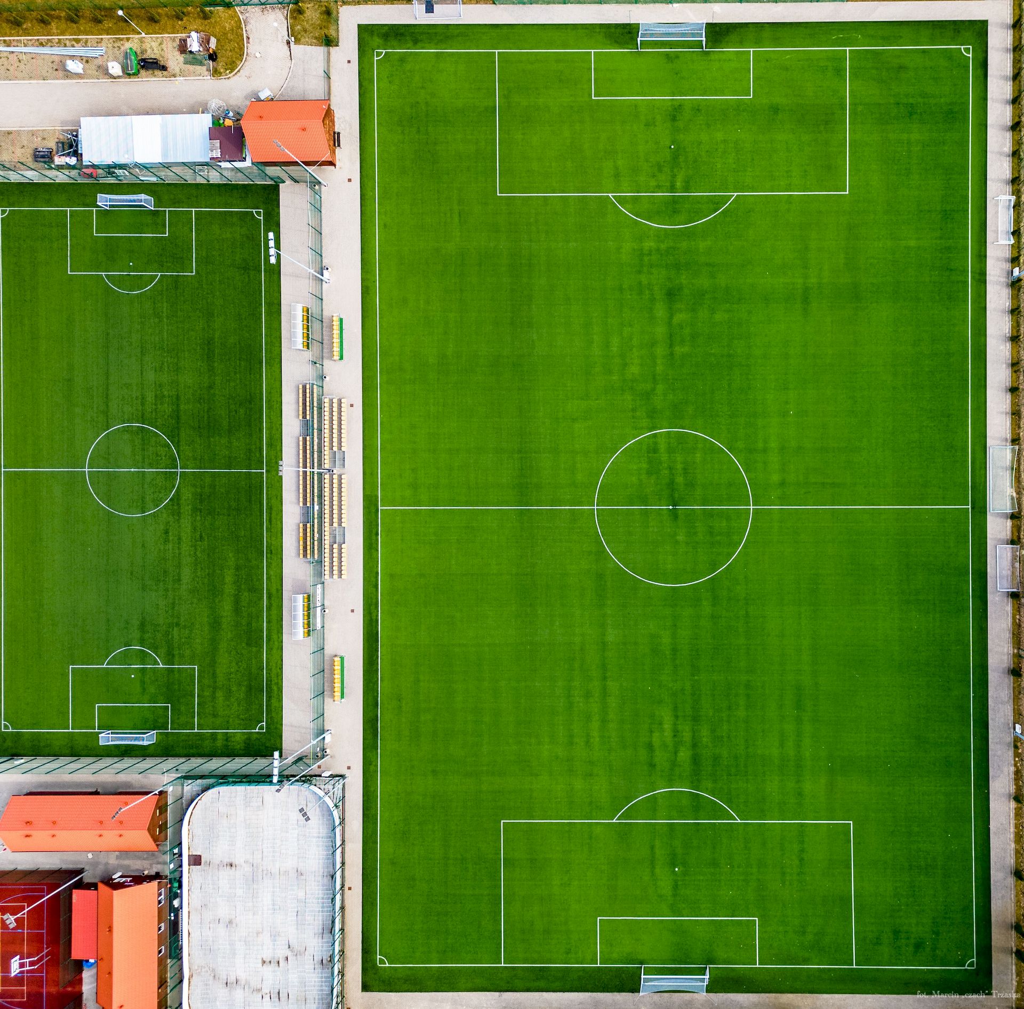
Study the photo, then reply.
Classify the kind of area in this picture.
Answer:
sports ground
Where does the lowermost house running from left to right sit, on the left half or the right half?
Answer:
left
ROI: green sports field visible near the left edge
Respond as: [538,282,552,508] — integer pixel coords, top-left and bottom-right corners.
[0,184,283,757]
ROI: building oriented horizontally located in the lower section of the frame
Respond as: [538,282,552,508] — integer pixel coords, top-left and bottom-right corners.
[0,788,169,852]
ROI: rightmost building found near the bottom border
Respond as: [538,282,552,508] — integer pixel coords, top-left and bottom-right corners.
[96,874,170,1009]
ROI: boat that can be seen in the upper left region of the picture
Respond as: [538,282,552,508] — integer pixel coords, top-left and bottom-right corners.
[123,48,137,73]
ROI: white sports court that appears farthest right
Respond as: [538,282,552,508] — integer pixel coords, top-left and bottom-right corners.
[181,779,345,1009]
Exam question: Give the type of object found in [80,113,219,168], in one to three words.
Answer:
shed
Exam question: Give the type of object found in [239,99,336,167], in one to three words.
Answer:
house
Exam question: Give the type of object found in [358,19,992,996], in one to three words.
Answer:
sports field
